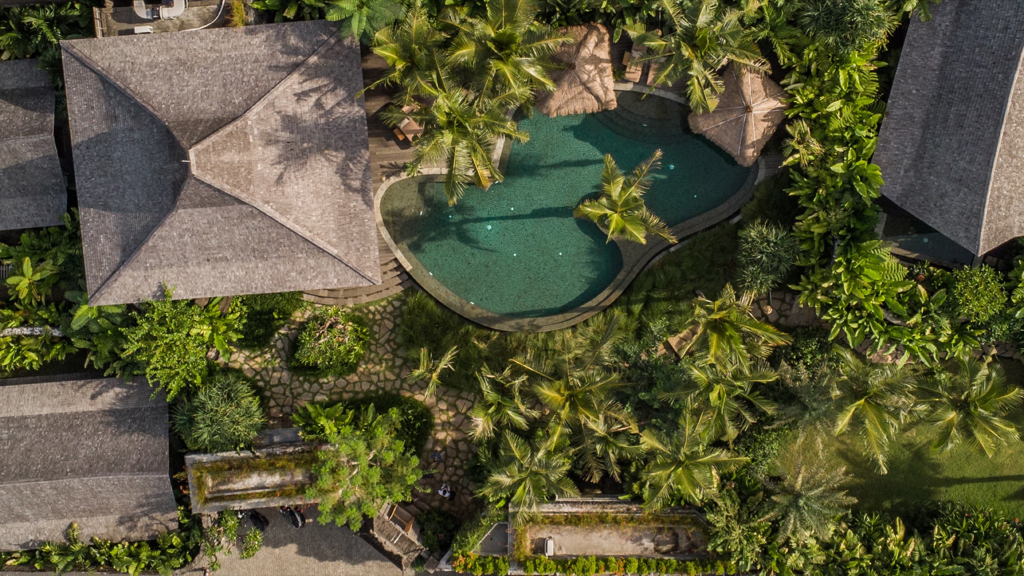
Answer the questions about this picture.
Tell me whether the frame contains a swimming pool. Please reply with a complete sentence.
Yes, looking at the shot, I can spot a swimming pool.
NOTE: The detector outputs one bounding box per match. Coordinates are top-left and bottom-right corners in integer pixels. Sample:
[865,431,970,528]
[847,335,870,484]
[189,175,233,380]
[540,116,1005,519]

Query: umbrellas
[688,61,789,166]
[536,22,618,119]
